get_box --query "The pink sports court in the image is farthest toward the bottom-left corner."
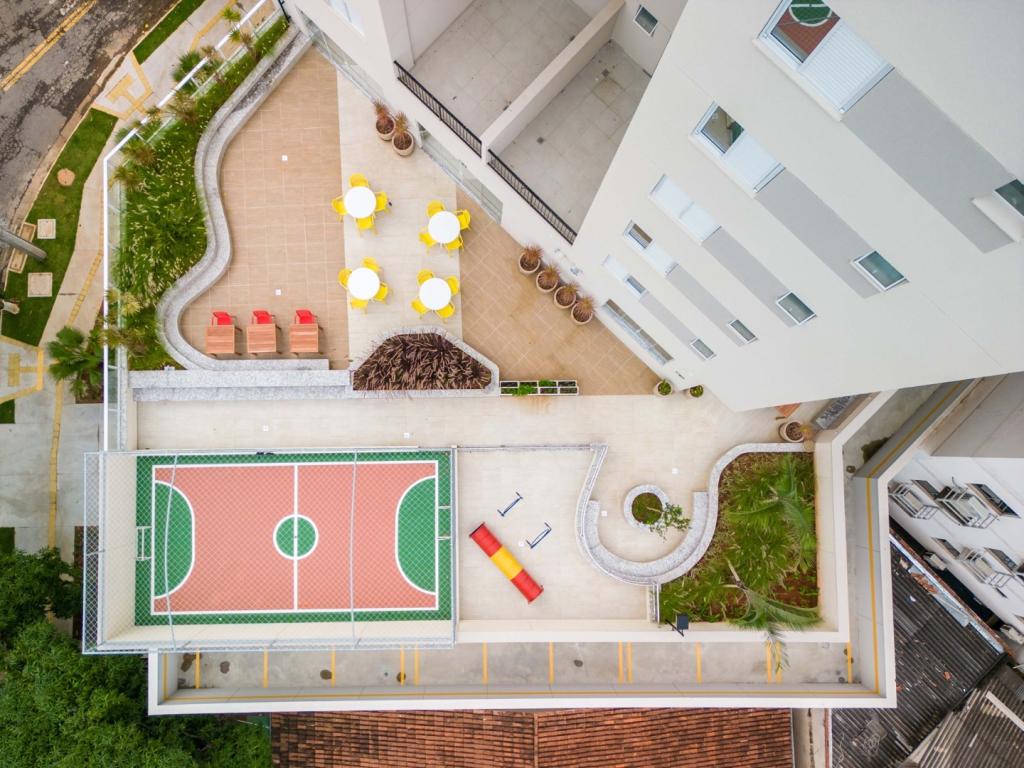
[135,452,452,626]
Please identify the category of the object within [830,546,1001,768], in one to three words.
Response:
shed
